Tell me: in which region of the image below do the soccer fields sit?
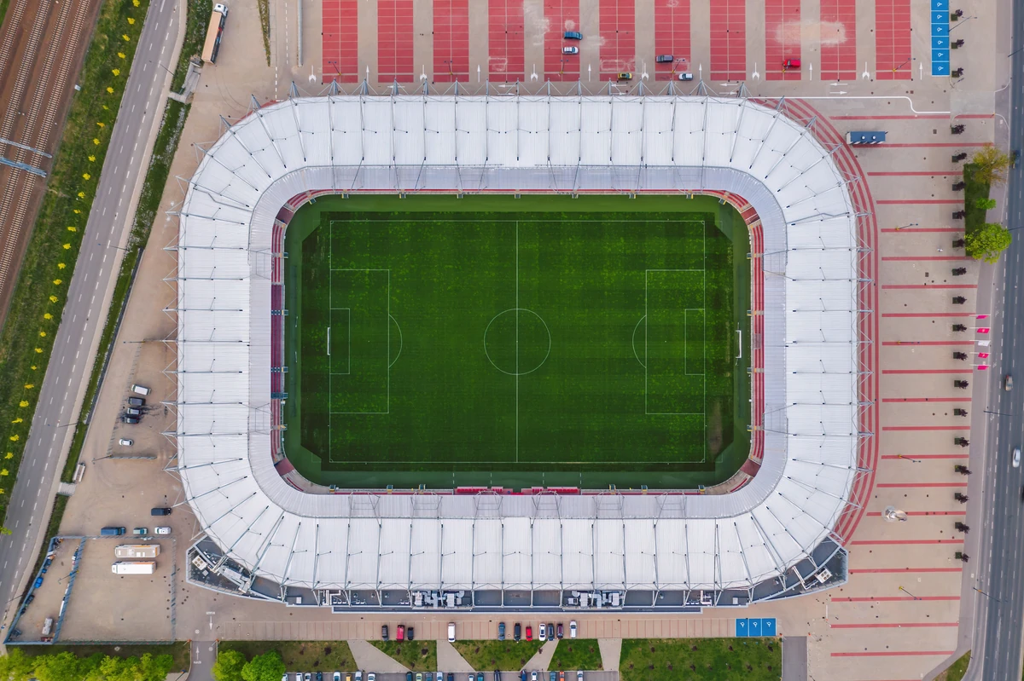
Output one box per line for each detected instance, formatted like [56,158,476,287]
[285,195,751,489]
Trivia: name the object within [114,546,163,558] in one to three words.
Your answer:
vehicle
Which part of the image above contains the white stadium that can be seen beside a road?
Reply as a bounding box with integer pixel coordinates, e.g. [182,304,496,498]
[161,77,874,608]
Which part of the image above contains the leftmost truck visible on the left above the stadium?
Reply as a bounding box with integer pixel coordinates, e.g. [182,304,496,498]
[200,4,226,61]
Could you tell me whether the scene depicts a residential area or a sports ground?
sports ground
